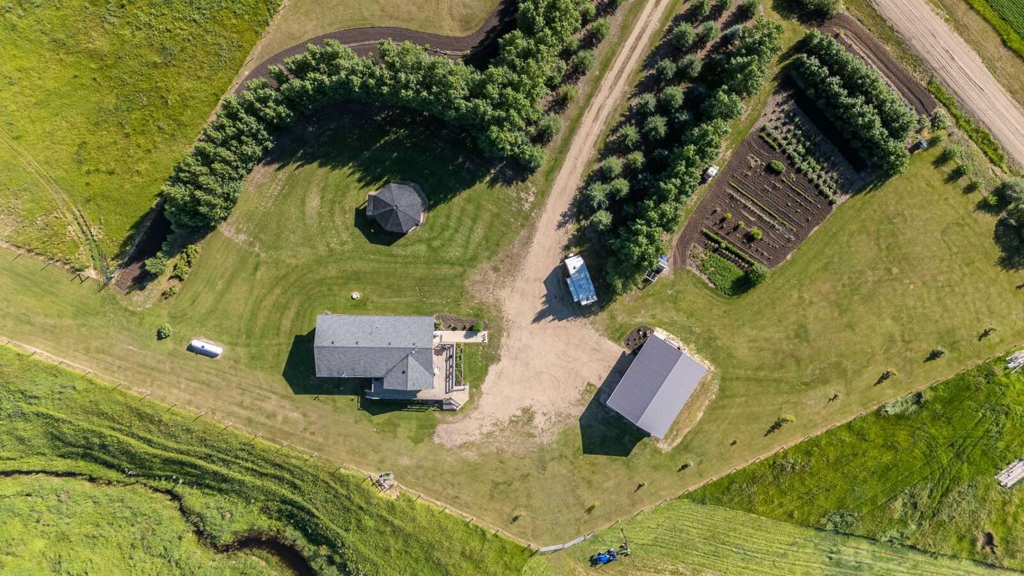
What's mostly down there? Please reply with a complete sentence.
What you mostly see from above here is grass.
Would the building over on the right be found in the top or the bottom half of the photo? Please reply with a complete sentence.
It is in the bottom half that the building over on the right appears.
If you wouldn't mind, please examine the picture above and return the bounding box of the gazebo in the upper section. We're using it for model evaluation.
[362,183,421,235]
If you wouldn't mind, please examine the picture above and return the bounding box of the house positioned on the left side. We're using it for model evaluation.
[312,313,435,393]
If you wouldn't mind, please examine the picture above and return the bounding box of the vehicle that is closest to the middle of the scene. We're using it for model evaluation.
[564,252,597,305]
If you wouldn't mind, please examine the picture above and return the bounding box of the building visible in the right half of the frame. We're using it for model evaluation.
[606,333,707,439]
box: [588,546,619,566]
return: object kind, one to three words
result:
work vehicle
